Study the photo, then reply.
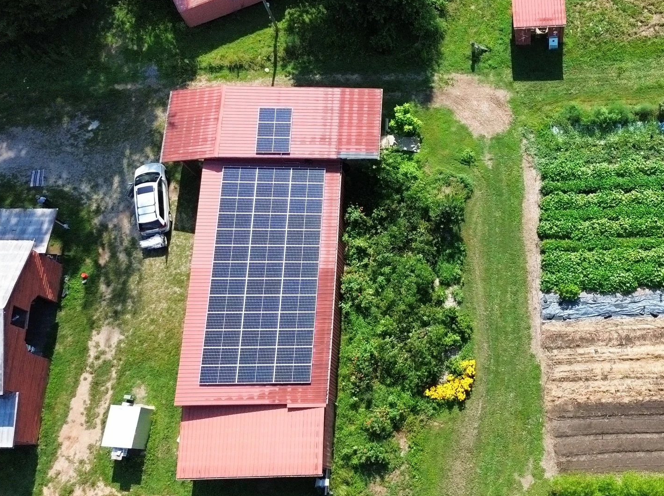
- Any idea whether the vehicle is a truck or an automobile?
automobile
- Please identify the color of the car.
white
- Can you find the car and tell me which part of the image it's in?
left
